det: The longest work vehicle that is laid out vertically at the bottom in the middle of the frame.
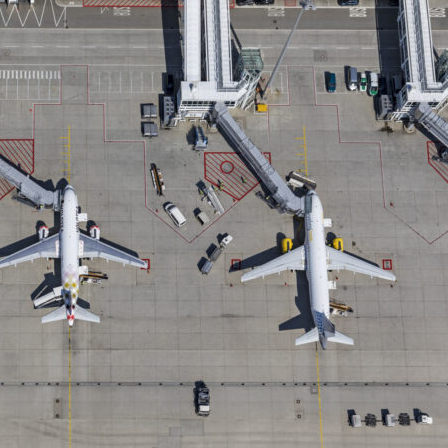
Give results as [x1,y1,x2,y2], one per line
[197,385,211,414]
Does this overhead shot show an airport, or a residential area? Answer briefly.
airport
